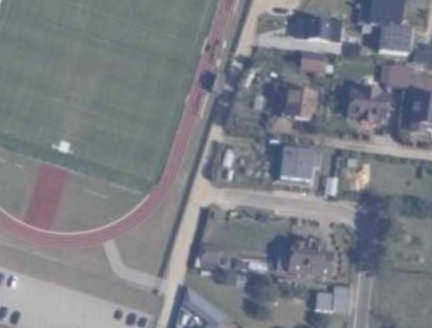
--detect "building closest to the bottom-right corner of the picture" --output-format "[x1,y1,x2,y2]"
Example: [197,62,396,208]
[333,286,351,315]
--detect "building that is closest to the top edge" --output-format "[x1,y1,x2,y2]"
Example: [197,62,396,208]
[369,0,405,25]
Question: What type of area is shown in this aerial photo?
sports ground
